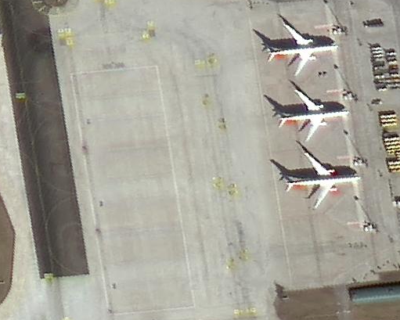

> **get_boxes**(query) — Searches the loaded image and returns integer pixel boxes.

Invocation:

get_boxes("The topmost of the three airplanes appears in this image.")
[269,22,338,80]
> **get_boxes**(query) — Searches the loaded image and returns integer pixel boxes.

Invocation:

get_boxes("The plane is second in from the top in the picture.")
[281,88,350,146]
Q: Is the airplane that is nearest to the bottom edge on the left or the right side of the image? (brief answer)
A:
right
